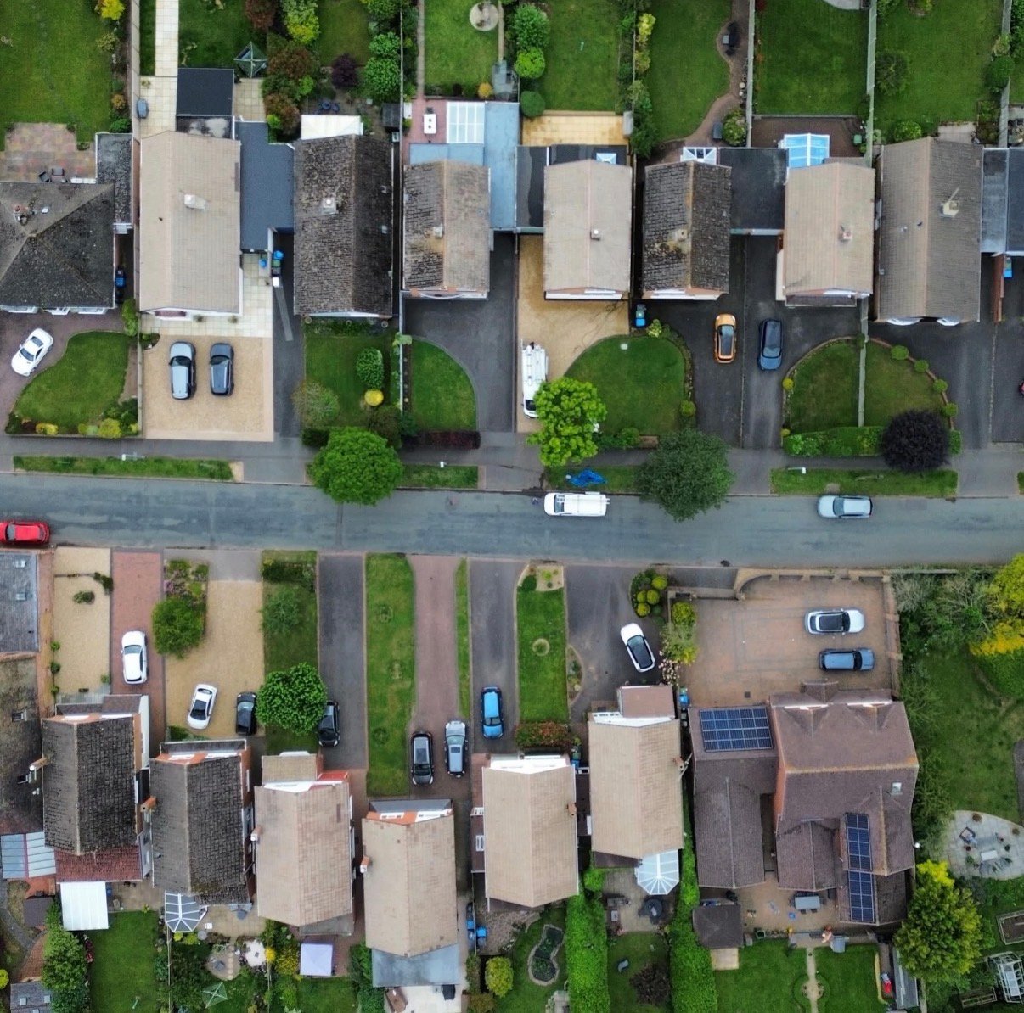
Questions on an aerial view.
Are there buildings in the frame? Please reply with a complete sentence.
Yes, there is a building in the image.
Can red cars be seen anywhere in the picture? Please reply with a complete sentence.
Yes, the picture does show a red car.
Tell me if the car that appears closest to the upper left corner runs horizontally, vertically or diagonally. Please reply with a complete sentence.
What the image shows is the car that appears closest to the upper left corner lying diagonally.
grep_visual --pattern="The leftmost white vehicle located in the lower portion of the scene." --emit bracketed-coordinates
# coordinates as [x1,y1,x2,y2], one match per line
[119,629,149,684]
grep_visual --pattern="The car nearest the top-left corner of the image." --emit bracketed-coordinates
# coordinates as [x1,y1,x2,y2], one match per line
[11,327,57,378]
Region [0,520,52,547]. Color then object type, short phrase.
red car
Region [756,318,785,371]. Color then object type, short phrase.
blue car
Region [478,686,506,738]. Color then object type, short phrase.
blue car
